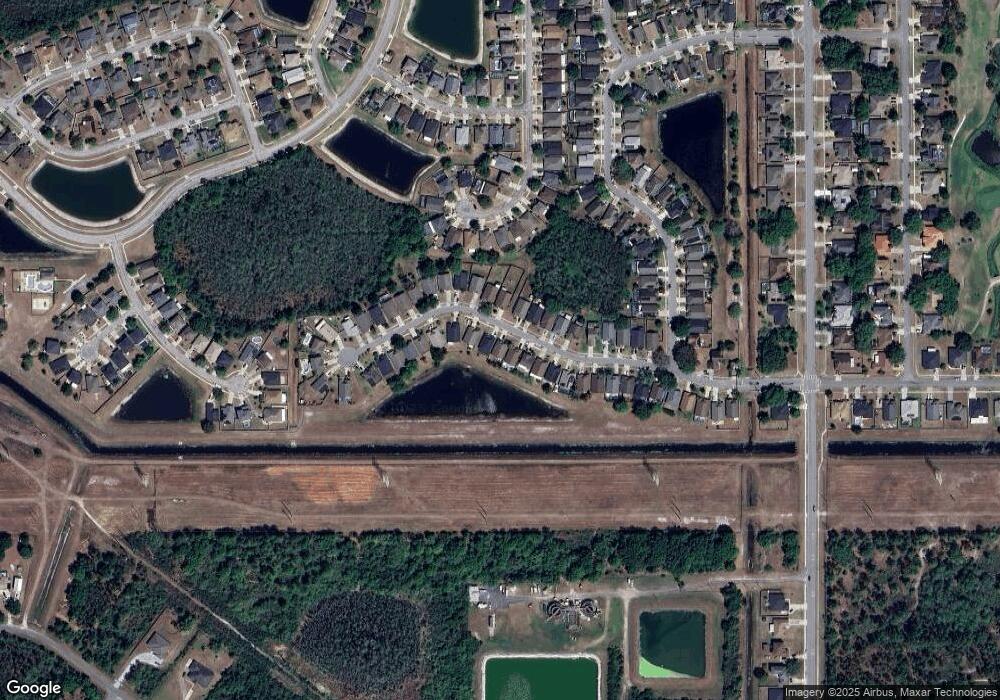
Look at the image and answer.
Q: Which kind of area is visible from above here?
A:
residential area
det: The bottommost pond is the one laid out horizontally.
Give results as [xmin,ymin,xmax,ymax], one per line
[482,656,601,700]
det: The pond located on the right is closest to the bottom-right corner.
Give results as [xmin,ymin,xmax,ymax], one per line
[639,610,707,679]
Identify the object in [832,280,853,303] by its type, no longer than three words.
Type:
house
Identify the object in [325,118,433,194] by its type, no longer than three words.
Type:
pond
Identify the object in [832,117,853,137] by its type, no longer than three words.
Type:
house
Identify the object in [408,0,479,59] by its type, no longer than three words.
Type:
pond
